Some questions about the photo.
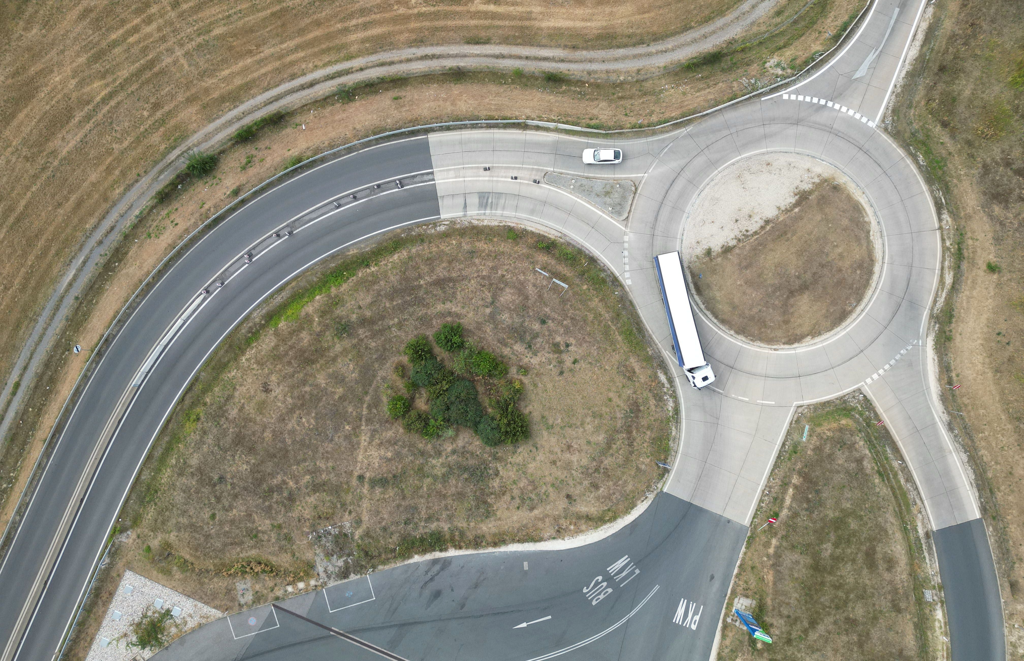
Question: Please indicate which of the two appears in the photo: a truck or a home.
truck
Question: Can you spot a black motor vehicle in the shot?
No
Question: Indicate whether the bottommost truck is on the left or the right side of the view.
right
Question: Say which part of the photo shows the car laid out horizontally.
top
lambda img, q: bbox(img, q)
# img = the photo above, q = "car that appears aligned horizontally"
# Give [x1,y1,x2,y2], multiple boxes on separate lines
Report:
[582,145,622,165]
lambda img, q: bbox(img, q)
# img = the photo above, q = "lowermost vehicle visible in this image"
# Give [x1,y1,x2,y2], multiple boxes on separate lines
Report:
[652,251,715,390]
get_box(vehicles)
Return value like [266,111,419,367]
[582,145,622,165]
[652,251,715,390]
